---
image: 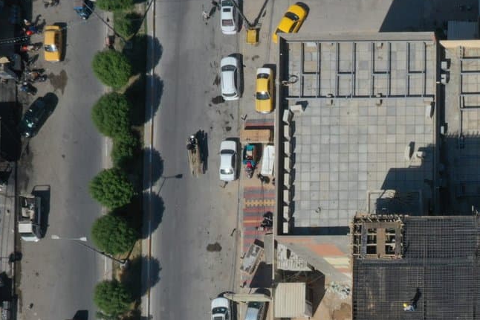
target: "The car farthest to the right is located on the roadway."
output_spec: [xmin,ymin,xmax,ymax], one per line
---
[274,3,308,41]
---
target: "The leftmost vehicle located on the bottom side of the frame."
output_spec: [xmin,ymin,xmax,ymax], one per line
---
[17,191,43,239]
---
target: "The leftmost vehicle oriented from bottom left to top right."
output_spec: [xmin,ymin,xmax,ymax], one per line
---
[19,97,56,141]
